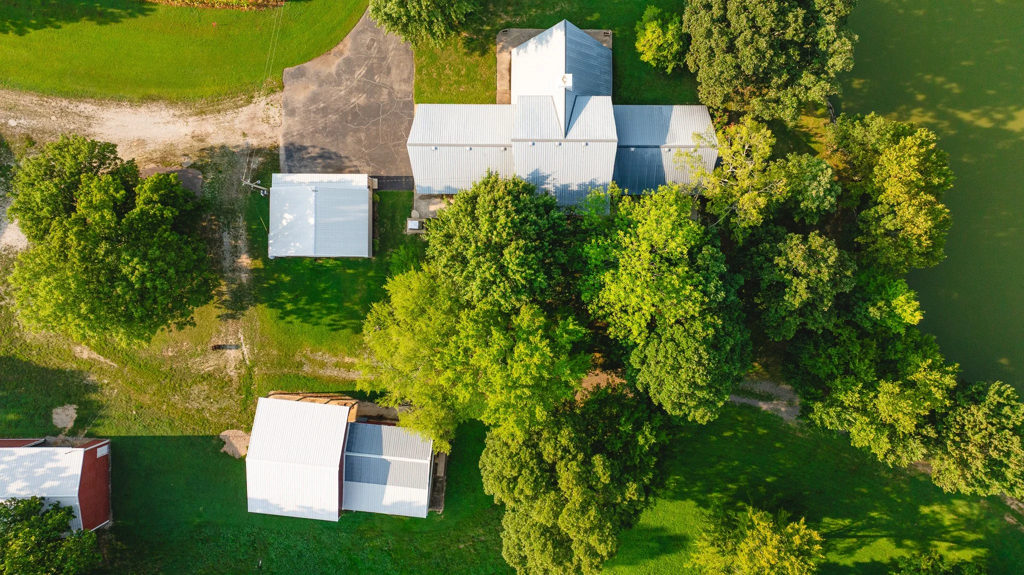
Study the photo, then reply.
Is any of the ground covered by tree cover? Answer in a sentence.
Yes, the picture does contain tree cover.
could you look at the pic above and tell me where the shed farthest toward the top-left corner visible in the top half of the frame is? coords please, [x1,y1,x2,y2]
[269,173,374,257]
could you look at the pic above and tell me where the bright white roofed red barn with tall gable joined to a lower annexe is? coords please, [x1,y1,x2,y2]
[245,395,436,522]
